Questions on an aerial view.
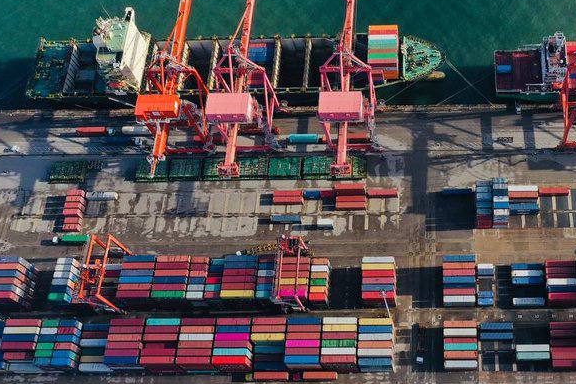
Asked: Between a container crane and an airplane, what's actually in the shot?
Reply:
container crane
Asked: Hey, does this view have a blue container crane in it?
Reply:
No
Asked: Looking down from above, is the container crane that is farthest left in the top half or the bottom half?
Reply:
bottom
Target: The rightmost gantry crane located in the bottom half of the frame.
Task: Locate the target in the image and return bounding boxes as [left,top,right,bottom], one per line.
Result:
[274,232,313,317]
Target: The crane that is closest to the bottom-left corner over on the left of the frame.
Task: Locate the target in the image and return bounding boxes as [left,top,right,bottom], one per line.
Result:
[75,233,138,318]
